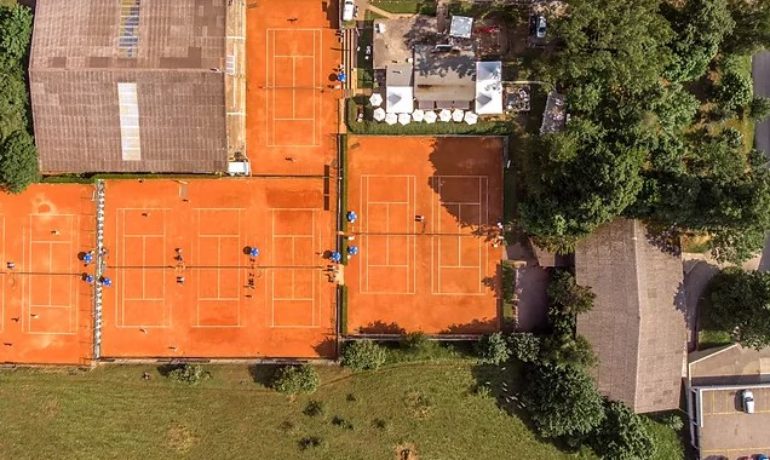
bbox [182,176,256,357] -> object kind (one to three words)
tennis court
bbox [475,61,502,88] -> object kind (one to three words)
tent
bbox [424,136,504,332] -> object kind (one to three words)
tennis court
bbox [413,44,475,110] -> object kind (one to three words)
building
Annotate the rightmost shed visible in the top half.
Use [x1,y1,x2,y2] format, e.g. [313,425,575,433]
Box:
[539,93,567,135]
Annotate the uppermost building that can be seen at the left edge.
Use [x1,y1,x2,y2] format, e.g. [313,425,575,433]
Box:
[29,0,233,176]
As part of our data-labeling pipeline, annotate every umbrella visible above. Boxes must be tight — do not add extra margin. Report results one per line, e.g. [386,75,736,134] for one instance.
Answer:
[349,245,359,255]
[423,110,435,123]
[347,211,358,222]
[385,113,397,126]
[83,253,95,263]
[440,109,452,123]
[250,247,259,257]
[338,72,348,83]
[86,274,97,283]
[452,110,464,121]
[102,277,114,286]
[464,112,477,123]
[369,92,381,106]
[331,251,341,262]
[374,108,386,121]
[412,110,423,122]
[399,113,411,125]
